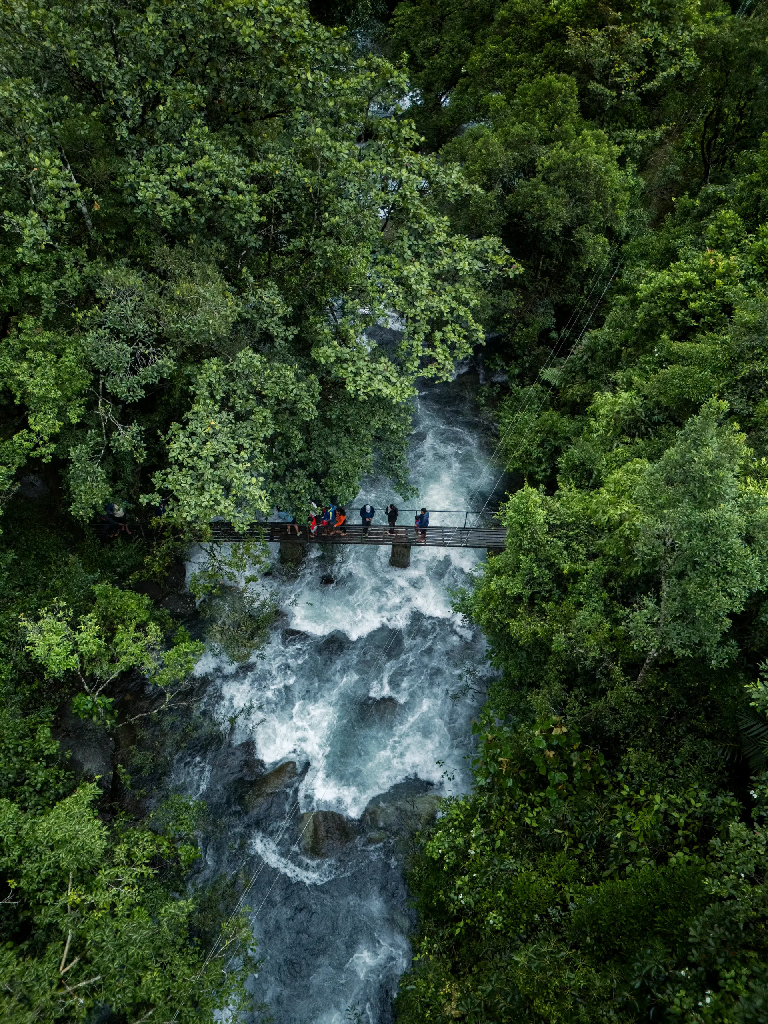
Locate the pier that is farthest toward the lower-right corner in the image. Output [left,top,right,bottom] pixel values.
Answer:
[390,551,410,573]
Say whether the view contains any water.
Yes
